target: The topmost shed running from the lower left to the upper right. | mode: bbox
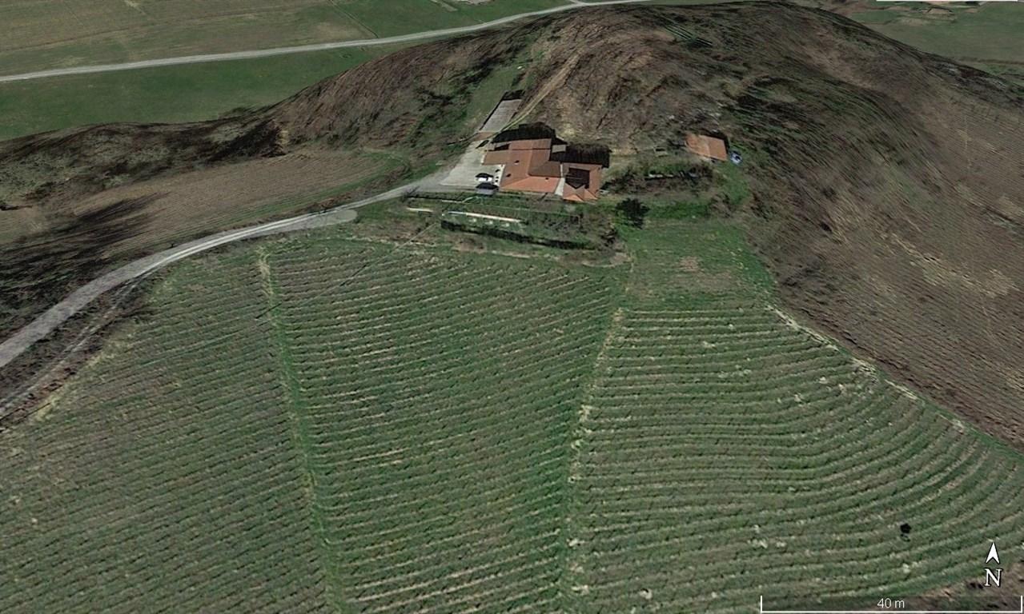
[481,99,521,136]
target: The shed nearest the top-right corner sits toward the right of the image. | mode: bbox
[686,133,727,164]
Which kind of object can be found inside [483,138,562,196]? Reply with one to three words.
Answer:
house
